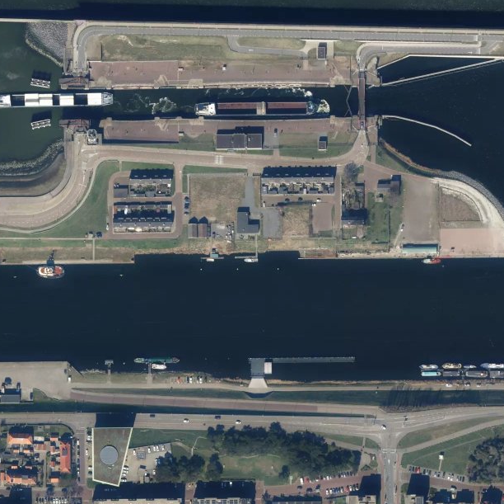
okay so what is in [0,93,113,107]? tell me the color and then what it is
white ship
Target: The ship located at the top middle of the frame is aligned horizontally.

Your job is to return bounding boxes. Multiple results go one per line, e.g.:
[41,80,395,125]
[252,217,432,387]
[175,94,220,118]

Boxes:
[196,102,316,114]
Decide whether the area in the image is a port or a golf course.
port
